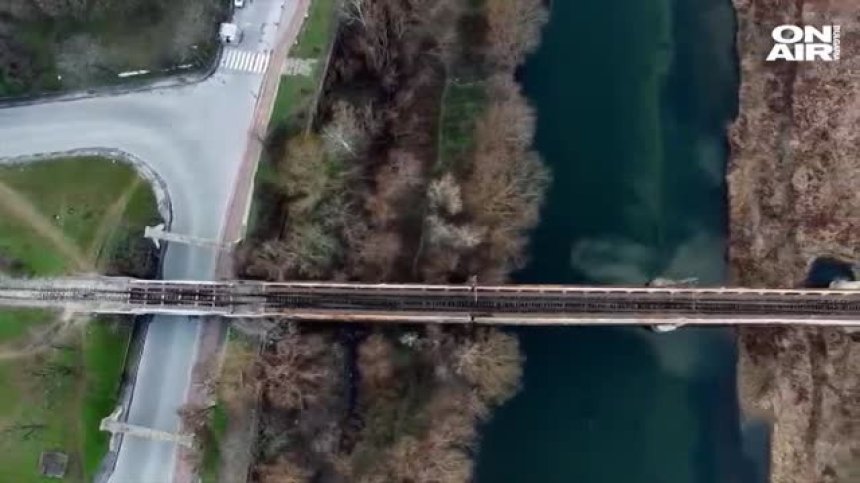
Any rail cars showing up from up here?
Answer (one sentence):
No, there appears to be no rail car in this shot.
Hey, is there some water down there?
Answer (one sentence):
Yes, water shows up in the scene.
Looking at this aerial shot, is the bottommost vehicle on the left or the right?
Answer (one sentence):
The bottommost vehicle sits on the left side.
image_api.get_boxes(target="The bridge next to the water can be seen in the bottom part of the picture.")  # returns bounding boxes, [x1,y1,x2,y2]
[108,276,860,332]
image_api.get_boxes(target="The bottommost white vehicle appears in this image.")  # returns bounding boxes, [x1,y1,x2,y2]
[218,20,239,49]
